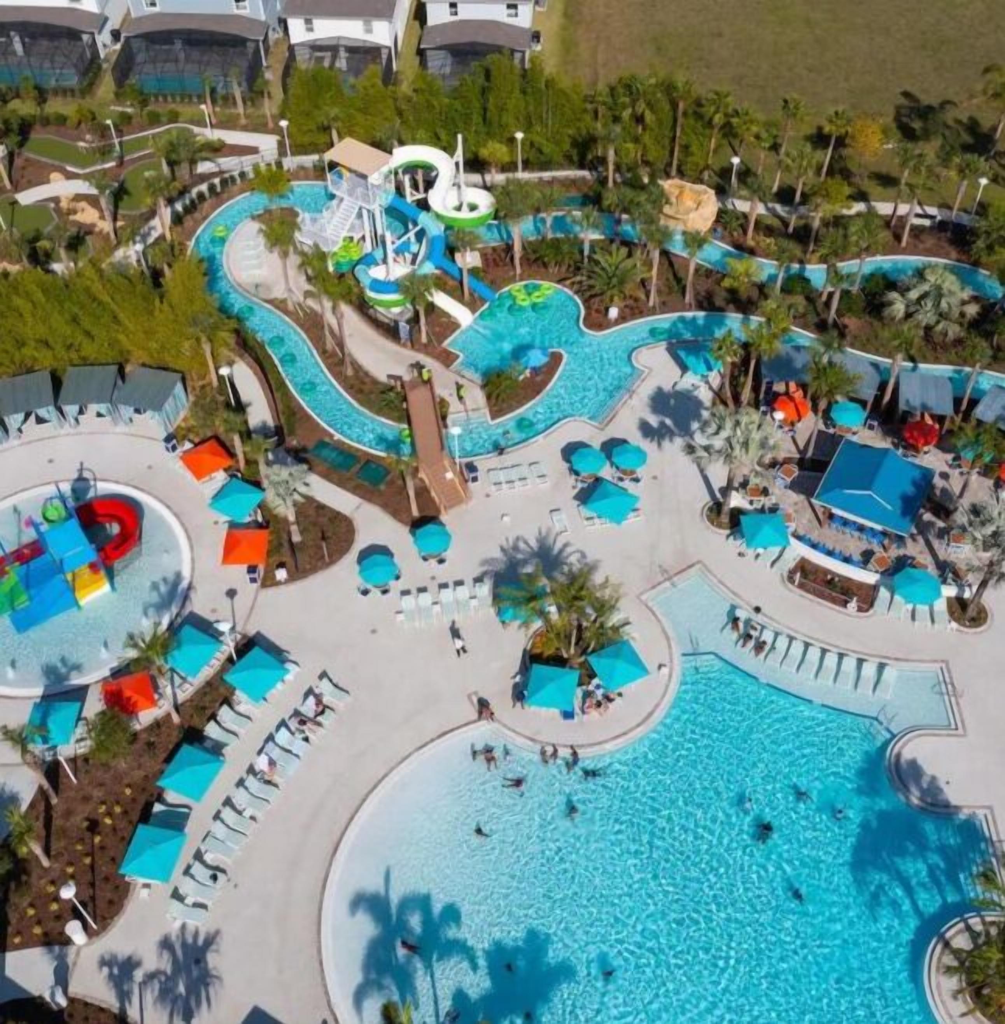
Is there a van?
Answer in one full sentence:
No, no van is visible in the view.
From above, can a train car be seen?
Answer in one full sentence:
No, the photo shows no train car.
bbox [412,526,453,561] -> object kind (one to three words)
umbrella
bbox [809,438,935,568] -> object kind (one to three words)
shed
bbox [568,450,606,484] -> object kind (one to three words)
umbrella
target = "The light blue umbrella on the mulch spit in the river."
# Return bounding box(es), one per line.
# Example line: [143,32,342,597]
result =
[522,352,552,392]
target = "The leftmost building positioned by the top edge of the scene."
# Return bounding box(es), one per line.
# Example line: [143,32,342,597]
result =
[0,0,137,91]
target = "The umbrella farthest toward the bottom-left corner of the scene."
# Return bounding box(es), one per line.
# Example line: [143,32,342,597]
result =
[357,555,400,592]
